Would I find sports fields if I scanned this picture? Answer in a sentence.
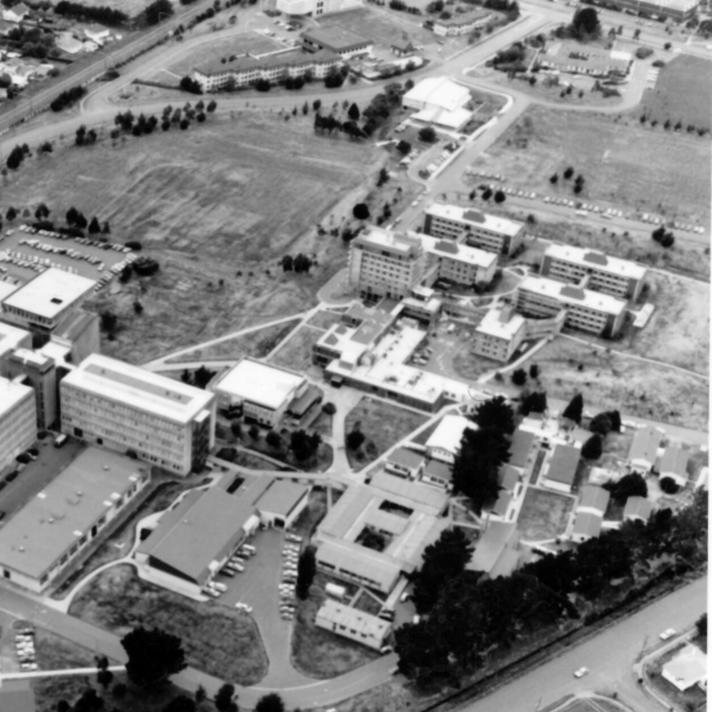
Yes, a sports field is visible in the scene.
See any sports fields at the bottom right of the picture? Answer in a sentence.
No, there's no sports field to be seen at the bottom right of the picture.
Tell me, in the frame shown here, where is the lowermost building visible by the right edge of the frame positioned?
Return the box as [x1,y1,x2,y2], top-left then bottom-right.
[662,659,711,696]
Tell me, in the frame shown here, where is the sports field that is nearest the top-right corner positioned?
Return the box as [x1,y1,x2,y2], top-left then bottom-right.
[640,54,712,135]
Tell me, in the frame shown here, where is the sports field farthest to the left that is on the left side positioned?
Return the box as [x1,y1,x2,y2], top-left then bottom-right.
[0,112,388,261]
